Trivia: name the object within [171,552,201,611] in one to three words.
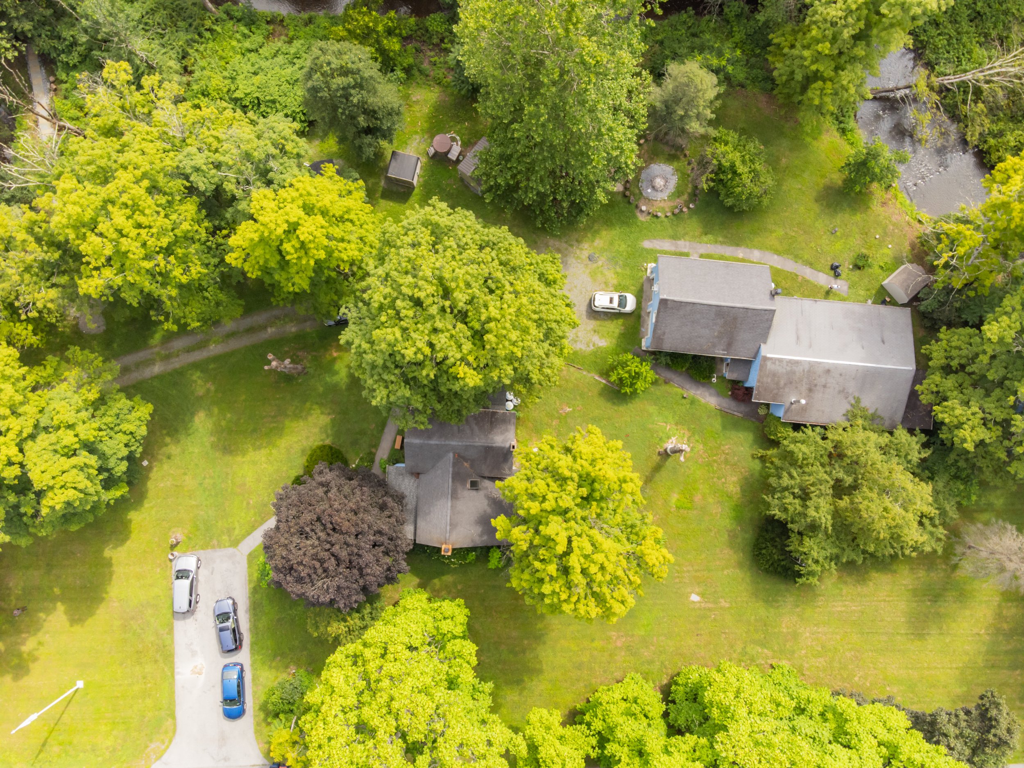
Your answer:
car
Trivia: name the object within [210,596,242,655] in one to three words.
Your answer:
car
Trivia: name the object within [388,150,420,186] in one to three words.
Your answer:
shed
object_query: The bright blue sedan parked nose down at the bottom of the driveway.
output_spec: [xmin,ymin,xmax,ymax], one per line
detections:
[219,662,247,721]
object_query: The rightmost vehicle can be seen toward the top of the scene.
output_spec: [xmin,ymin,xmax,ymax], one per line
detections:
[591,290,637,314]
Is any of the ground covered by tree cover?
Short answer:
Yes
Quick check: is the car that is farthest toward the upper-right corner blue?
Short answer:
No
